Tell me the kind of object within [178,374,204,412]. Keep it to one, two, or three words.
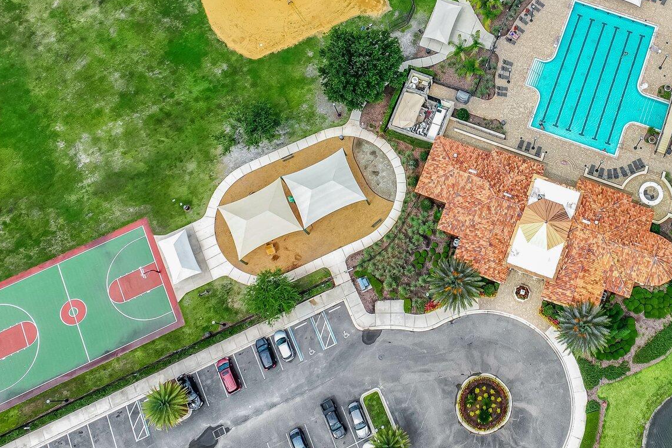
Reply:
car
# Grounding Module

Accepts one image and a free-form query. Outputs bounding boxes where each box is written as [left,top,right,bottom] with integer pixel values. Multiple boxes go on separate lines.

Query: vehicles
[319,396,346,442]
[178,374,204,412]
[255,335,278,373]
[217,356,242,395]
[347,401,370,440]
[288,426,310,448]
[273,327,295,365]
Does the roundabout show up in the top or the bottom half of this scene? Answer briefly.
bottom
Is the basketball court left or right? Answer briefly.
left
